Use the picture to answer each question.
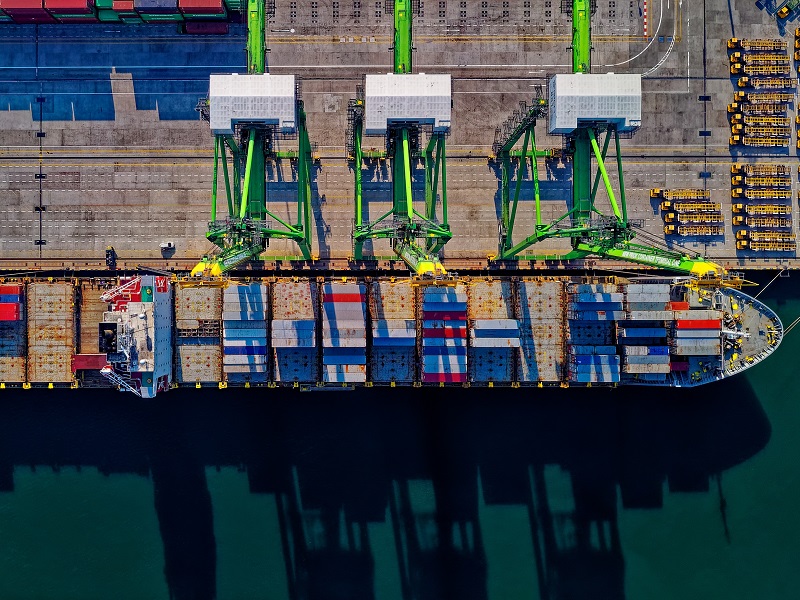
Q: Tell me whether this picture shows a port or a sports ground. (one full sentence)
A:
What you see here is a port.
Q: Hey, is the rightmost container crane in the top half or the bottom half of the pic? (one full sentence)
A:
Seen from above, the rightmost container crane lies in the top half of the view.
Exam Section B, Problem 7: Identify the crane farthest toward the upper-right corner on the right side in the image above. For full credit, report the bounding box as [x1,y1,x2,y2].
[482,0,756,291]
